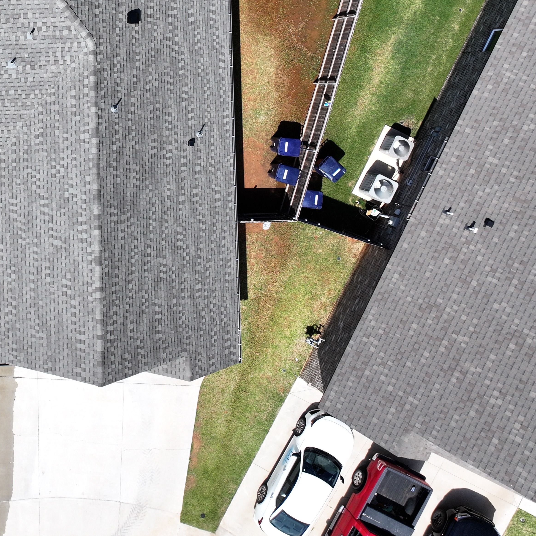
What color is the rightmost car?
black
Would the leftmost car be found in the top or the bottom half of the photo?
bottom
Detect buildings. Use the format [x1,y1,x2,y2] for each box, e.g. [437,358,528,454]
[299,0,536,508]
[0,0,242,381]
